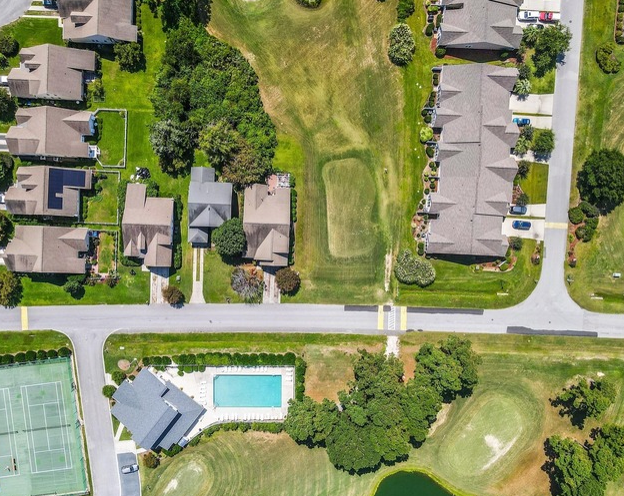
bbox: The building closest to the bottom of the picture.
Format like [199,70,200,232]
[108,368,206,451]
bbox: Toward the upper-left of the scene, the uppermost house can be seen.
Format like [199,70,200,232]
[57,0,133,42]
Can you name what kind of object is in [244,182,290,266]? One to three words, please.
house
